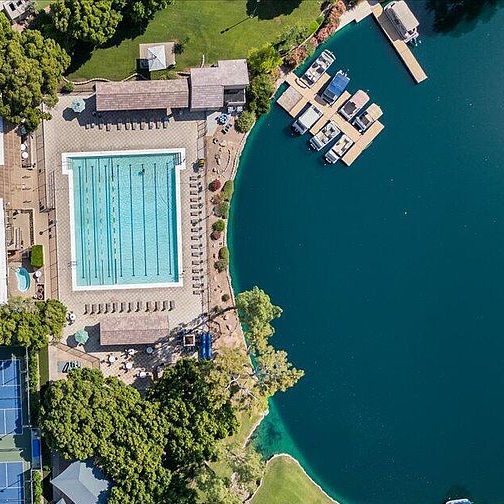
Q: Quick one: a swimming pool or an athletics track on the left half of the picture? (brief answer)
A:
swimming pool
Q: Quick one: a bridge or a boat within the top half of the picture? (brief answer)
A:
boat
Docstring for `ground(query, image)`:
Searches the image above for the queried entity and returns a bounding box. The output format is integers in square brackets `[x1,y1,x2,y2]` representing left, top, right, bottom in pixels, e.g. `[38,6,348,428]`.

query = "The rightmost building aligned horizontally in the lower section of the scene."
[99,316,170,345]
